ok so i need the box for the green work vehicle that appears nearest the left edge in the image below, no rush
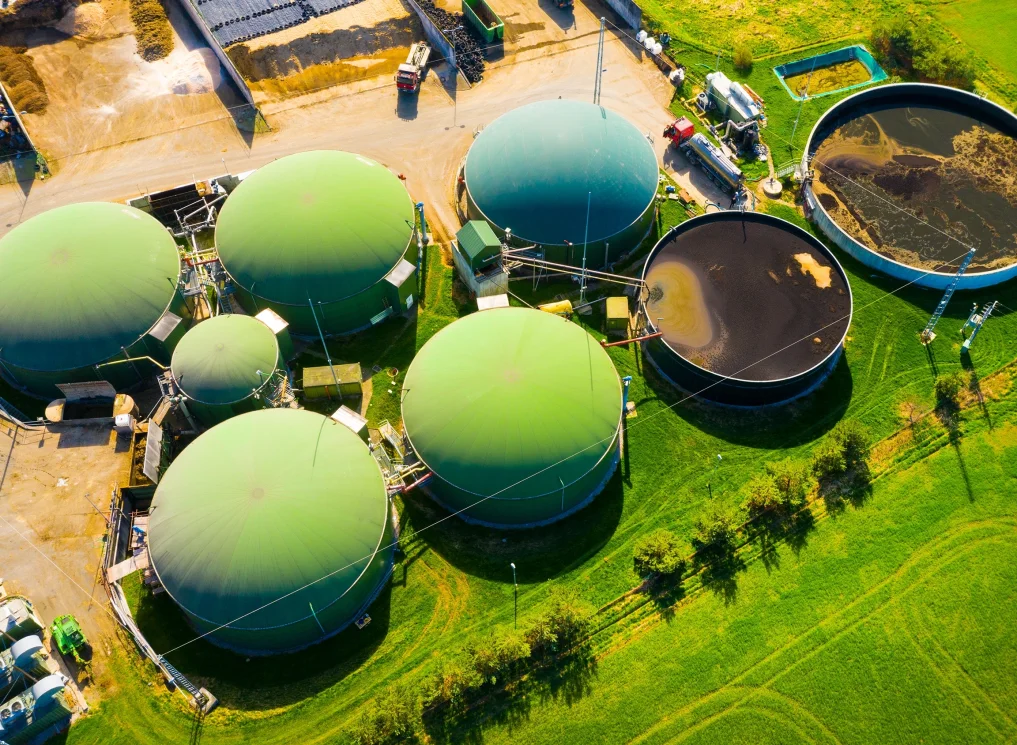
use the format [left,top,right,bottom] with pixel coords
[50,607,93,669]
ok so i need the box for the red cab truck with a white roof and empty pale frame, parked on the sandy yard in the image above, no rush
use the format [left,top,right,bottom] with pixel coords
[392,38,429,93]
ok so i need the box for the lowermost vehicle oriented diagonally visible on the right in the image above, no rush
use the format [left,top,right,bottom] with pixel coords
[665,114,747,196]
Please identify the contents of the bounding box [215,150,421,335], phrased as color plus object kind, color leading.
green storage tank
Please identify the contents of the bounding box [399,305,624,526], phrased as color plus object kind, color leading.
green storage tank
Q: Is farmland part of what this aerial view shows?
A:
Yes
